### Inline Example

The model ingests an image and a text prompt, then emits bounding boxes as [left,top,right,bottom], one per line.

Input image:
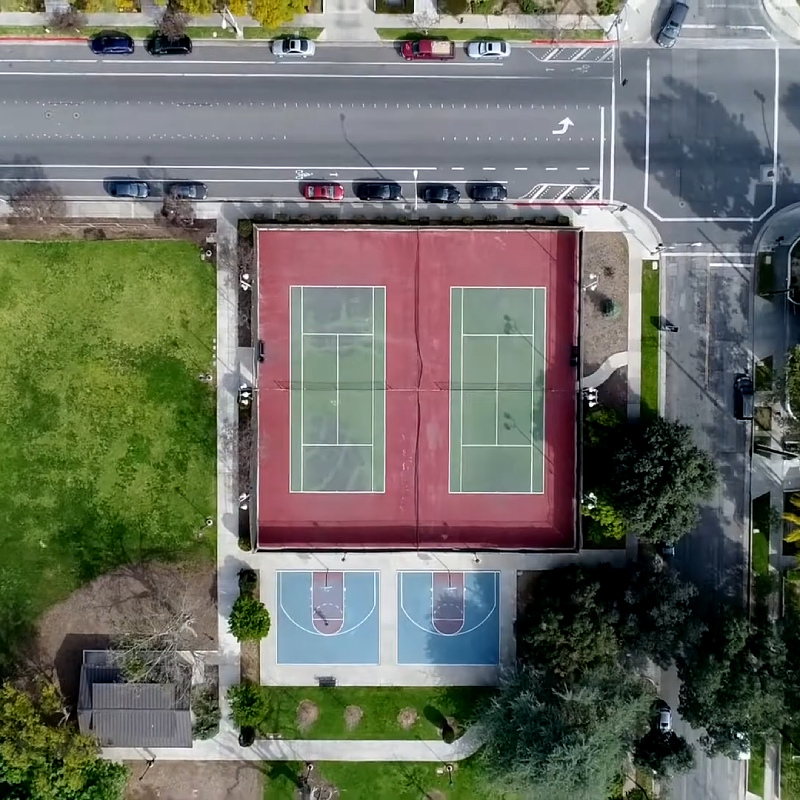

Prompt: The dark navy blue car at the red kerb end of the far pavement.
[92,31,134,52]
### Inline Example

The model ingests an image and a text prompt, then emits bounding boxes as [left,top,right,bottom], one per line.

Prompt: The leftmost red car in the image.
[305,181,344,200]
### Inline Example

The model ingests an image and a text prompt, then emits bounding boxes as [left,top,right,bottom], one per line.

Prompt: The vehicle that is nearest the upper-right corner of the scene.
[658,0,691,45]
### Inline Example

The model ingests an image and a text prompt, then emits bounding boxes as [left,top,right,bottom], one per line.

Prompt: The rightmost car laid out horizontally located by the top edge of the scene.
[467,38,510,59]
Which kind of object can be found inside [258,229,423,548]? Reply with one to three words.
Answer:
tennis court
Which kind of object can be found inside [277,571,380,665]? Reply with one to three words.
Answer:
basketball court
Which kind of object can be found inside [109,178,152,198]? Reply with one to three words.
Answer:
car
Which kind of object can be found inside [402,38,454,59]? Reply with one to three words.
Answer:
truck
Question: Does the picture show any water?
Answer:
No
